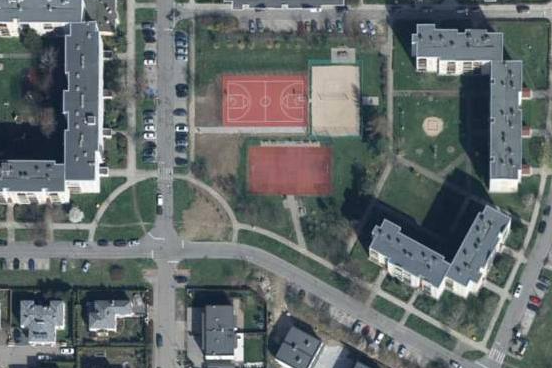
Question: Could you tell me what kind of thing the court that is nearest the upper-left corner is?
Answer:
basketball court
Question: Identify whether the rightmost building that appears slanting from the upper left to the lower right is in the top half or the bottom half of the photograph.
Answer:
bottom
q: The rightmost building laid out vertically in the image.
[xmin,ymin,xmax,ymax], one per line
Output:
[489,61,528,191]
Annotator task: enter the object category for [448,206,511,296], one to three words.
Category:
building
